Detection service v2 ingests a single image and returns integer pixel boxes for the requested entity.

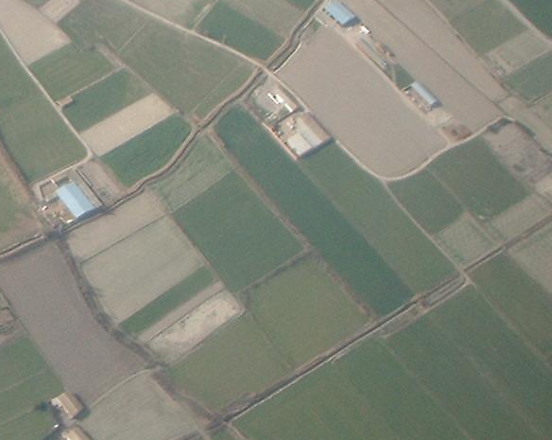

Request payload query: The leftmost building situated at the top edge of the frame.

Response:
[323,0,355,27]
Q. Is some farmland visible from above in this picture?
Yes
